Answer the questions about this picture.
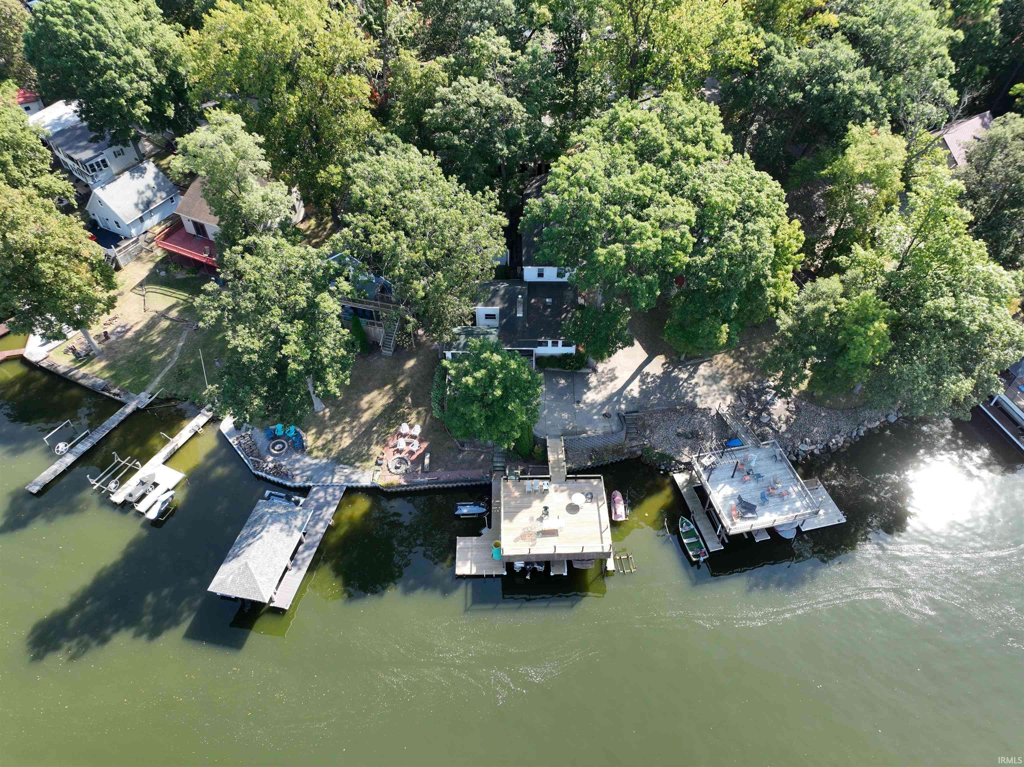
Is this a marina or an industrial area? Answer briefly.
marina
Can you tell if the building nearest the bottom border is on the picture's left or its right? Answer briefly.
left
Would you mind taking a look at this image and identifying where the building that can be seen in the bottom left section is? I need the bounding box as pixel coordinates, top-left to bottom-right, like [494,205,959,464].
[207,499,316,619]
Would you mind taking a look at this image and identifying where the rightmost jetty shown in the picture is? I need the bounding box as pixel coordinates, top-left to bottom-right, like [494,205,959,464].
[797,482,854,536]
